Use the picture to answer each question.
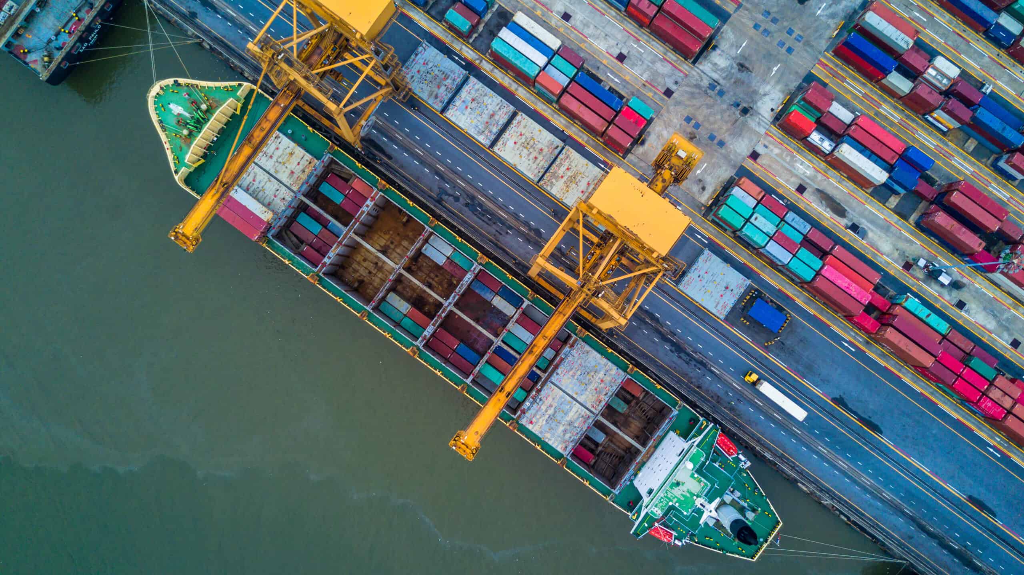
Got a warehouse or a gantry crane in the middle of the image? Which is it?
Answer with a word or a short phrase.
gantry crane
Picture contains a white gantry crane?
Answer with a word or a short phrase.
No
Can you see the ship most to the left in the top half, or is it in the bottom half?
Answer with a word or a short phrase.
top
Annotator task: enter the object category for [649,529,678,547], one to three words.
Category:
boat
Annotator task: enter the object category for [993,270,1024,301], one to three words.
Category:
shipping container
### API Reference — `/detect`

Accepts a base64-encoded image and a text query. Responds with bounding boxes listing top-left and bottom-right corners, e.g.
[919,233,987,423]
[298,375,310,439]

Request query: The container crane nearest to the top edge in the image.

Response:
[170,0,417,252]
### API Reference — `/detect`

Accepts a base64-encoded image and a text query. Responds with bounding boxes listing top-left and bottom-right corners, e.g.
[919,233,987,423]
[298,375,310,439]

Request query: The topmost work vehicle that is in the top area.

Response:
[978,86,998,101]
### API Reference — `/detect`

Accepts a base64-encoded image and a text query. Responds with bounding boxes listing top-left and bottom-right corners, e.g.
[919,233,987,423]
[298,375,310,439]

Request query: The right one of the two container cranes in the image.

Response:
[451,133,703,463]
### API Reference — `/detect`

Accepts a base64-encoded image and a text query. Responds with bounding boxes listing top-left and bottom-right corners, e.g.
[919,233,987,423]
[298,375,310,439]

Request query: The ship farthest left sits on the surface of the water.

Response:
[0,0,114,76]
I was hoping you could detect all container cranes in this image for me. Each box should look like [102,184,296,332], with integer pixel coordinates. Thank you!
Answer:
[451,133,703,463]
[170,0,417,252]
